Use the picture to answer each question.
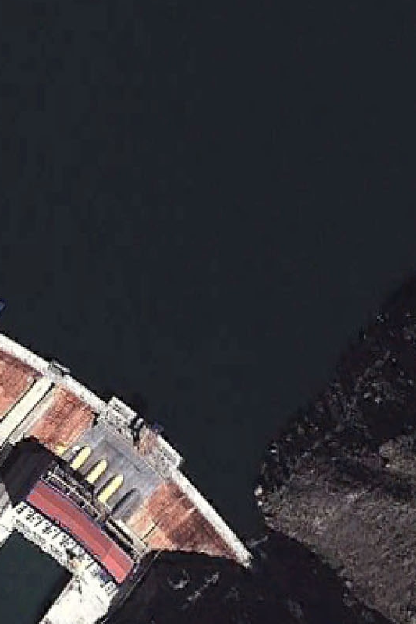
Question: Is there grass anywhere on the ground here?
No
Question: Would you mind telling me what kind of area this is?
port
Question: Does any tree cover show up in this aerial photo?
No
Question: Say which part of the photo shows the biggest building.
bottom left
